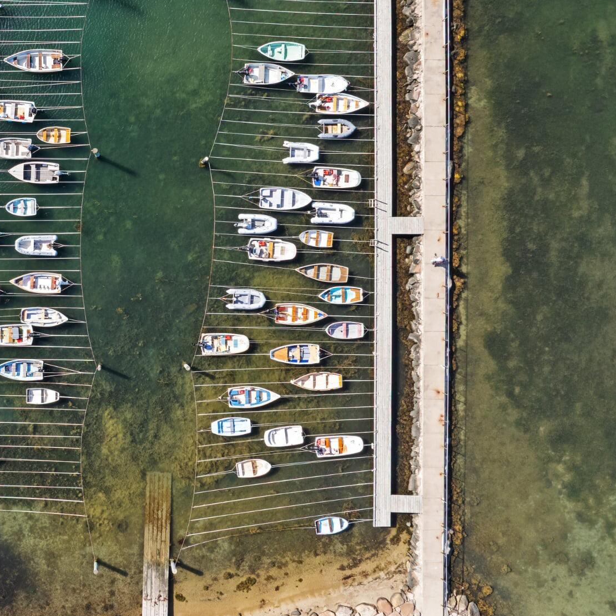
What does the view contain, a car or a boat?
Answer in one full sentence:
The one in the frame is a boat.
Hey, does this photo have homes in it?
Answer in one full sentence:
No, the frame has no home in it.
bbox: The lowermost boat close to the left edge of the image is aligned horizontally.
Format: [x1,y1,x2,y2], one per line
[27,388,60,404]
